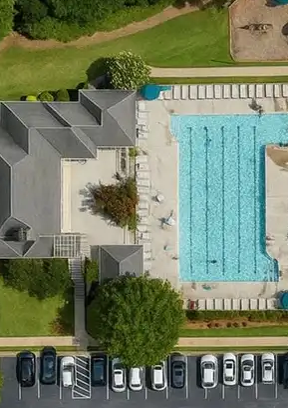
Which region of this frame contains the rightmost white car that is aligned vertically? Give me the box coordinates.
[260,353,276,385]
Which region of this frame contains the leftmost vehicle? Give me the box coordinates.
[16,351,37,389]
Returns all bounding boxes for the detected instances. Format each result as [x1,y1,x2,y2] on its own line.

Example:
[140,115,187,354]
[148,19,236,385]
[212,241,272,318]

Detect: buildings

[0,89,137,258]
[98,245,146,293]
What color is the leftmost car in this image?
black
